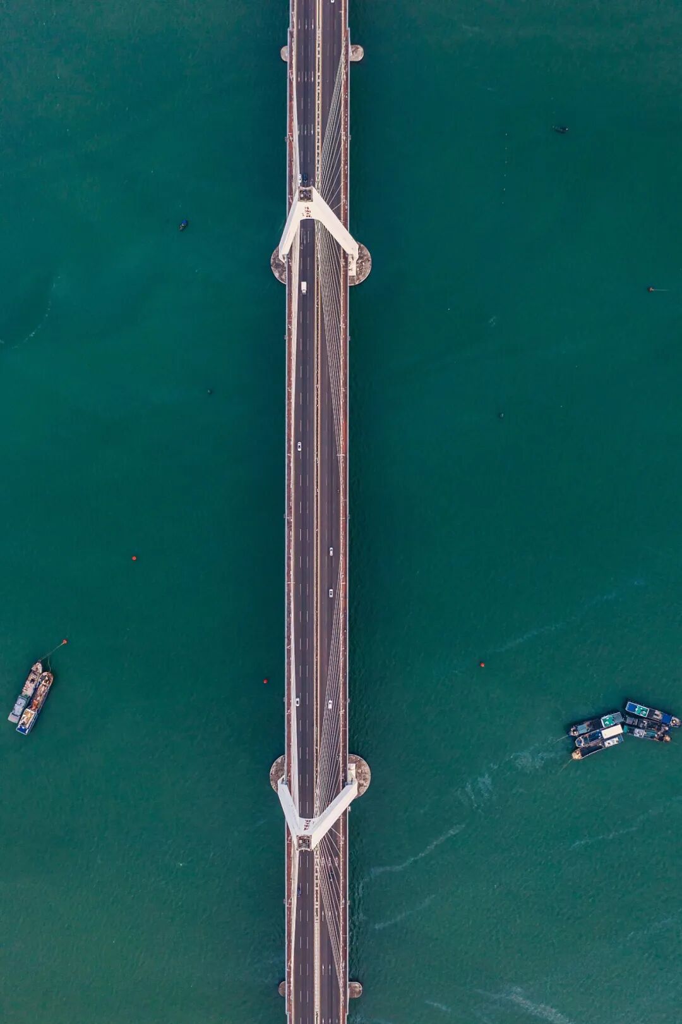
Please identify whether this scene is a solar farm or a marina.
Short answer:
marina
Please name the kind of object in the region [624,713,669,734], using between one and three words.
boat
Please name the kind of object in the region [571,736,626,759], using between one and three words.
boat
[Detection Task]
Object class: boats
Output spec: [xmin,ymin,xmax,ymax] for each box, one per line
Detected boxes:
[624,713,669,734]
[6,660,43,723]
[178,221,188,232]
[571,736,626,759]
[624,699,681,725]
[574,723,627,745]
[623,726,671,744]
[569,710,626,736]
[17,671,53,735]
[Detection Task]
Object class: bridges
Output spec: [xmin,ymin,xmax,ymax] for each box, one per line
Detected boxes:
[270,0,372,1024]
